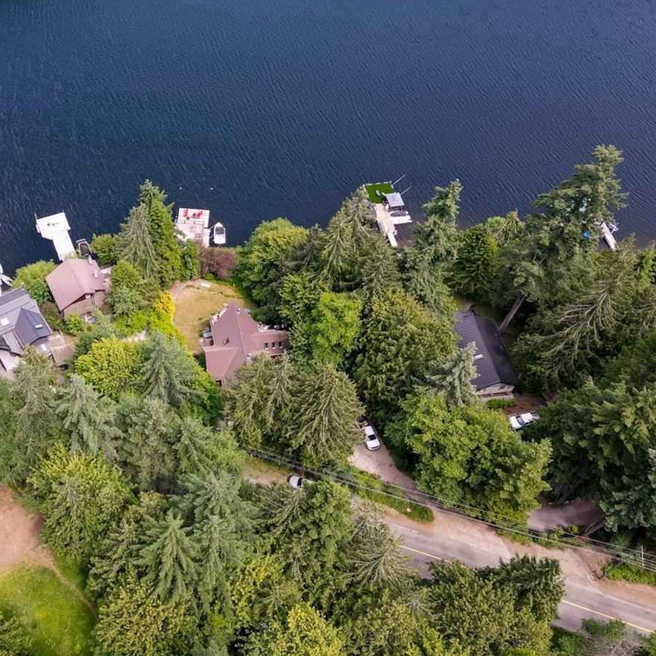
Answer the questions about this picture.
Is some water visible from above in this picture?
Yes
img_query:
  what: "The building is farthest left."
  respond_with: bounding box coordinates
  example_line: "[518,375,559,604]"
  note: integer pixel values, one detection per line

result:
[0,282,59,365]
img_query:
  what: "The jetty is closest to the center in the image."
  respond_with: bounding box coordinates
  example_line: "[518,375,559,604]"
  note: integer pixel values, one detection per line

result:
[364,177,410,246]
